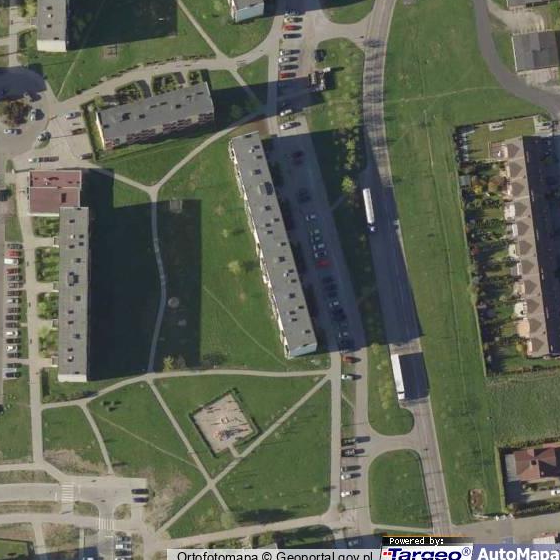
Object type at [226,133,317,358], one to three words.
building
